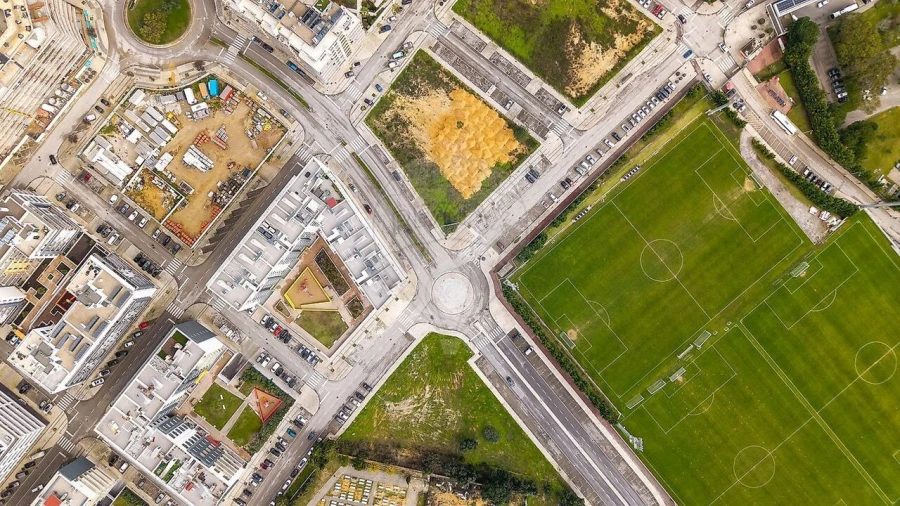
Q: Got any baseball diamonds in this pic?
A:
No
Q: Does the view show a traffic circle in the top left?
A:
Yes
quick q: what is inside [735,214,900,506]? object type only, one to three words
soccer field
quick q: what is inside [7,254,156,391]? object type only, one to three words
building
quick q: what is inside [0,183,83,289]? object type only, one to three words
building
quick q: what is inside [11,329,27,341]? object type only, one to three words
vehicle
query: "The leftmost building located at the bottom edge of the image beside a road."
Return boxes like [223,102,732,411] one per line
[0,389,48,494]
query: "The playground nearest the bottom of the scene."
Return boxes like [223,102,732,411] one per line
[253,387,283,423]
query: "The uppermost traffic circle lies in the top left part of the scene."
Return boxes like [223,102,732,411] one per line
[107,0,211,65]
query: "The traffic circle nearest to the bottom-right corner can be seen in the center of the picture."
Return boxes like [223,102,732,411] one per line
[417,257,489,329]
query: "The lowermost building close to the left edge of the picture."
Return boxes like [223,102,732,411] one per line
[28,459,112,506]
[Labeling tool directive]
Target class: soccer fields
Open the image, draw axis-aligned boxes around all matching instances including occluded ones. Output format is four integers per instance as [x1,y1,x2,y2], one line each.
[735,214,900,506]
[617,320,889,506]
[510,112,813,408]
